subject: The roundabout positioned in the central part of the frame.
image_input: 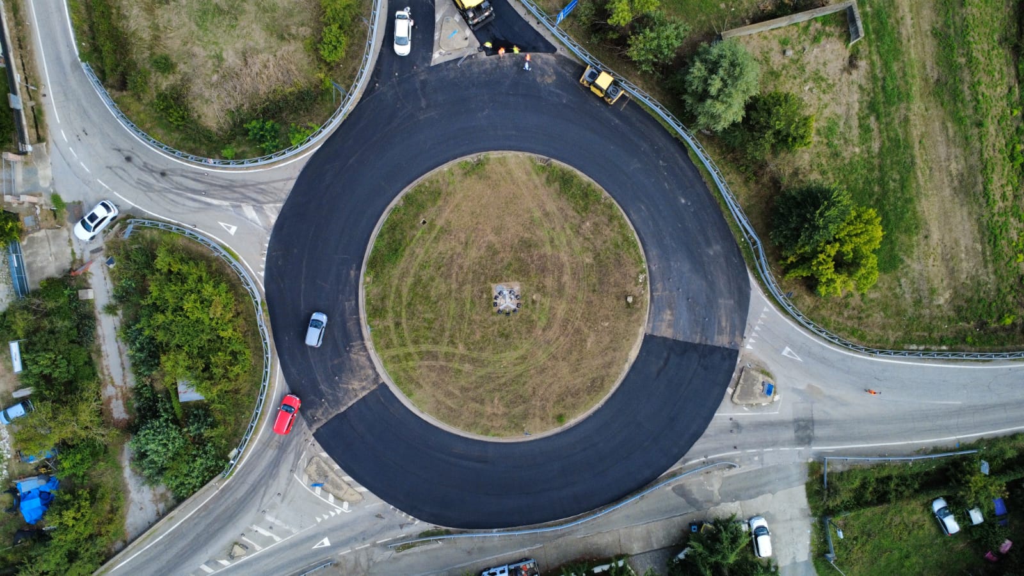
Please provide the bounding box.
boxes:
[263,0,752,529]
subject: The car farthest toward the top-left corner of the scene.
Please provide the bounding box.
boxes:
[75,201,121,240]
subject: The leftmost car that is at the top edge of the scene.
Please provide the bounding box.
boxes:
[392,10,412,54]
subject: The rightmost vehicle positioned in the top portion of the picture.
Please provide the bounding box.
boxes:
[577,67,626,106]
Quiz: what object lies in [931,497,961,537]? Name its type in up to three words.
car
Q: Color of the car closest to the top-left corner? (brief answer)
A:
white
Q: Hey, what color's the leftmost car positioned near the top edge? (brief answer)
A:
white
